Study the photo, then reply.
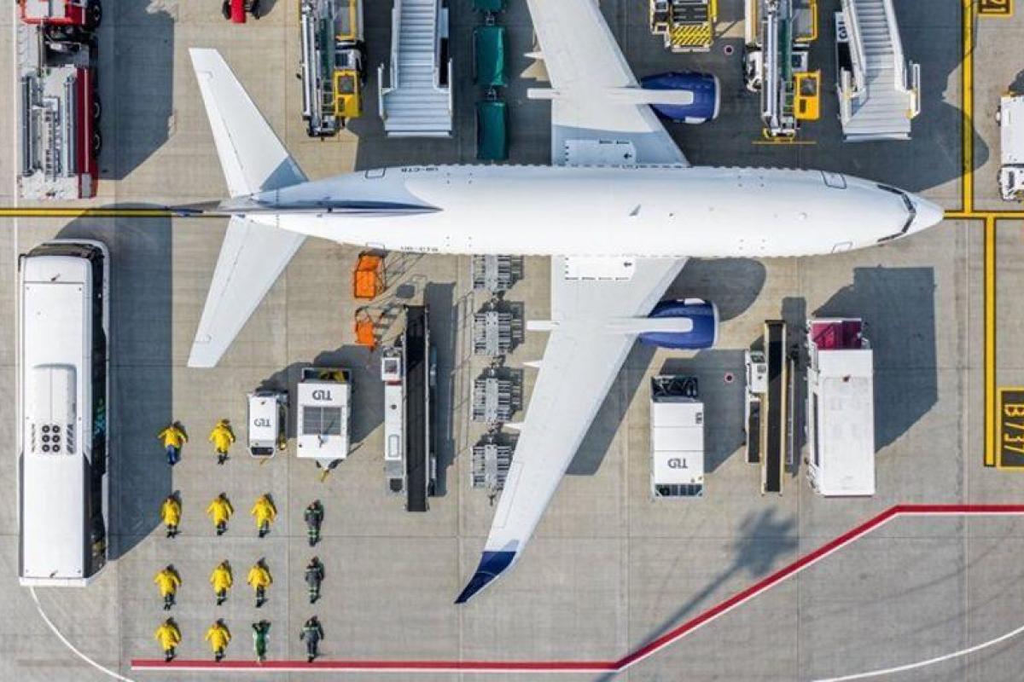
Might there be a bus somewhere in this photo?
Yes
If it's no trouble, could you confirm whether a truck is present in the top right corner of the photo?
Yes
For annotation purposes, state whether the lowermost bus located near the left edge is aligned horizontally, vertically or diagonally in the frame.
vertically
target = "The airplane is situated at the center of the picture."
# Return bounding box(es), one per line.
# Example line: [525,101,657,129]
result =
[167,0,942,604]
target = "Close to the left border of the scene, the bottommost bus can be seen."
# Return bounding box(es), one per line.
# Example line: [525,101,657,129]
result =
[17,240,111,586]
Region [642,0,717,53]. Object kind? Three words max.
work vehicle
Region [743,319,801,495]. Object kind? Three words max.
work vehicle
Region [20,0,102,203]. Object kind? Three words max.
truck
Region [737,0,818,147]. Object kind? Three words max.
truck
